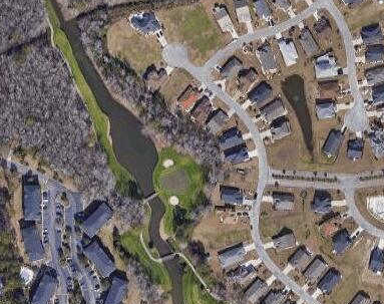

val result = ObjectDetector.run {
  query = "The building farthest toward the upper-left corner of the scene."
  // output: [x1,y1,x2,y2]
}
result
[131,12,156,32]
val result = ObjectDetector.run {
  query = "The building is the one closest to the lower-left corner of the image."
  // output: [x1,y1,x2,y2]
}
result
[31,273,57,304]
